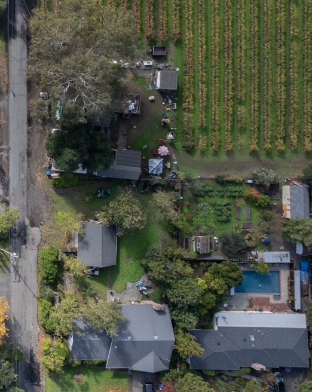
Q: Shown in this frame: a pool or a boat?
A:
pool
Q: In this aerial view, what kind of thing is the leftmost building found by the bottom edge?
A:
home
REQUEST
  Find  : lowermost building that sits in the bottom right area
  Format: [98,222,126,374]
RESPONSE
[186,311,309,372]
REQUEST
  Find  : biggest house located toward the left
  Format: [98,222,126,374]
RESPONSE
[67,303,175,373]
